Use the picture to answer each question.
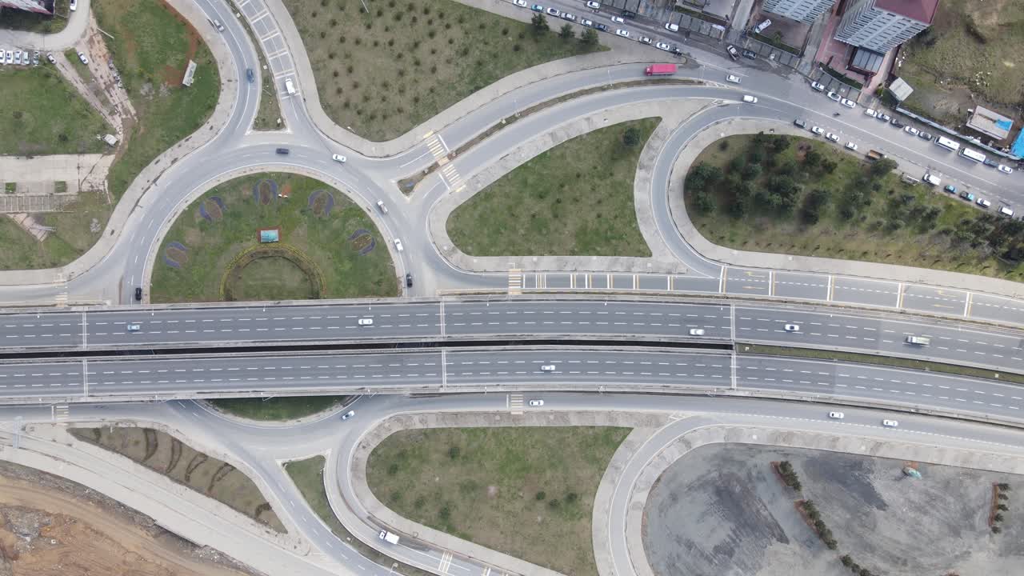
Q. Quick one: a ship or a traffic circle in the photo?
traffic circle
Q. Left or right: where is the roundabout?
left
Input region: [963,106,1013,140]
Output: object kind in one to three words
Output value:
shed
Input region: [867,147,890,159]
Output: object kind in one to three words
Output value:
vehicle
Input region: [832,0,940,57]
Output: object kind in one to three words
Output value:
building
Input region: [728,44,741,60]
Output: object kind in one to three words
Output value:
vehicle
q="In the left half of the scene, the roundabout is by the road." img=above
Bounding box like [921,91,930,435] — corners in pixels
[112,134,436,458]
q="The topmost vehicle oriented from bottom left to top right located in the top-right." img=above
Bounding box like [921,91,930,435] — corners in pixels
[757,17,771,32]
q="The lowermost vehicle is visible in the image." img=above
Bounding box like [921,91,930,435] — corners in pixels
[378,531,400,546]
